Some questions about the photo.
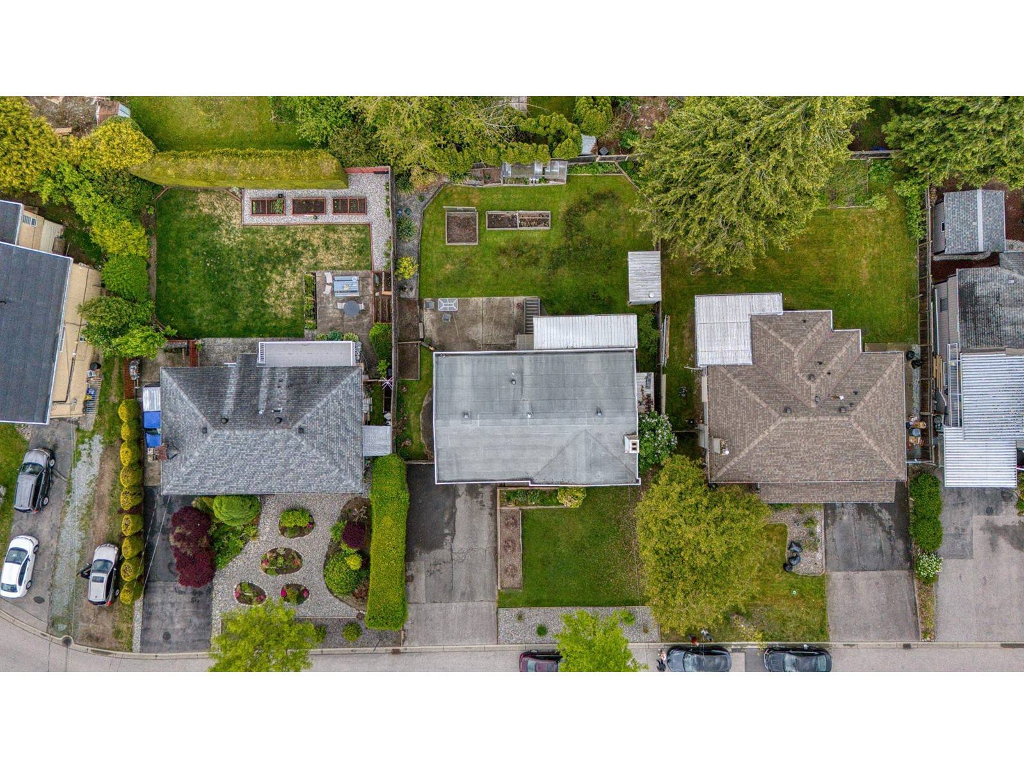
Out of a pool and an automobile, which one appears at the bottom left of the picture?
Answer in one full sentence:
You can see an automobile at the bottom left of the picture.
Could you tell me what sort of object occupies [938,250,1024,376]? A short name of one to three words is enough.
house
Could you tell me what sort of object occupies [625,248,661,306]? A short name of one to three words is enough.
shed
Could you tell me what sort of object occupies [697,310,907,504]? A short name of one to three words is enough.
house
